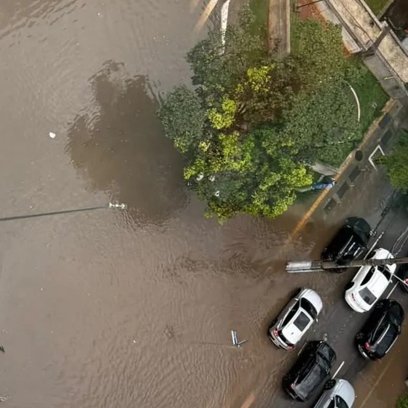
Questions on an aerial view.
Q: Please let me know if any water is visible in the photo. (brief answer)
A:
Yes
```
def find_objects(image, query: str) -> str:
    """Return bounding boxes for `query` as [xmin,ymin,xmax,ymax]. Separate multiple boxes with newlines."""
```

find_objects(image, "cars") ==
[268,288,319,352]
[316,382,352,408]
[323,215,366,264]
[285,340,335,404]
[358,302,402,361]
[347,251,390,311]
